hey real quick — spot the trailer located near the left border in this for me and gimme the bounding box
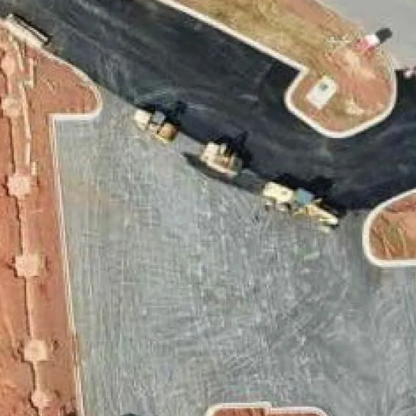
[5,10,53,47]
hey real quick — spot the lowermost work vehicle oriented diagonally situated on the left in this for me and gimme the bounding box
[137,108,181,146]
